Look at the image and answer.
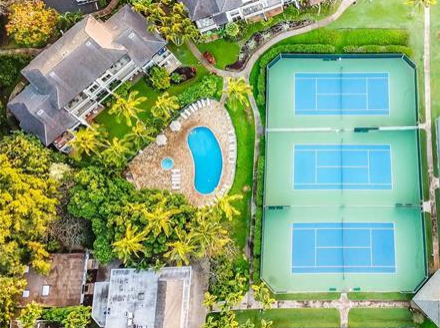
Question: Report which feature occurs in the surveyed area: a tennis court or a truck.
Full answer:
I can see a tennis court in this picture.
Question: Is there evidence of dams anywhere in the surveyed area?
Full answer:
No, no dam can be seen from above.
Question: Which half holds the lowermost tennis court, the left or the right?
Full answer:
You can find the lowermost tennis court on the right side of the picture.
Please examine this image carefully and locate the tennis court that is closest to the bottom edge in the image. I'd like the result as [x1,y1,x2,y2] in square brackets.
[263,206,426,292]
